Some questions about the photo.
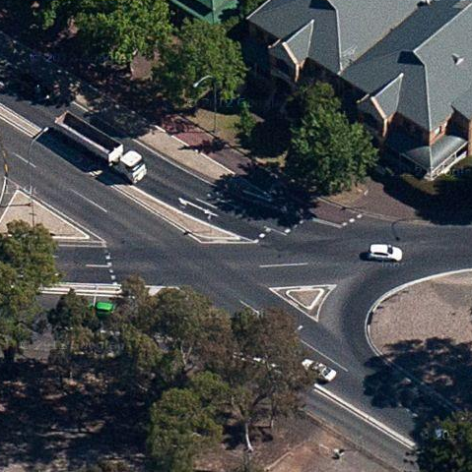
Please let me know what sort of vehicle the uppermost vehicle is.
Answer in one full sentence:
The uppermost vehicle in the image is a truck.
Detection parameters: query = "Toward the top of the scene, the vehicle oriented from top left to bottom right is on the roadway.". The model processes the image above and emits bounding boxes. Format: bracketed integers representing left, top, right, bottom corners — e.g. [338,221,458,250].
[55,109,140,178]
